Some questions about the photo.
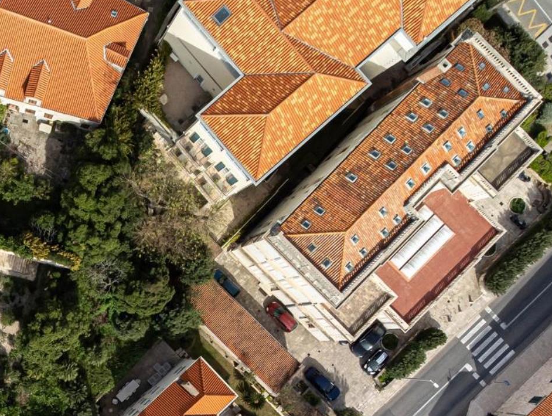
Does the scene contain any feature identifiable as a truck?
No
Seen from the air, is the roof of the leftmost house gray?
No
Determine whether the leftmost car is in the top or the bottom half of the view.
bottom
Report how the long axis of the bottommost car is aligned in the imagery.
diagonally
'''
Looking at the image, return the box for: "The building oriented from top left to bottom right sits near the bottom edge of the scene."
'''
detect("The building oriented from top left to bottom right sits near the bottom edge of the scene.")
[188,280,300,395]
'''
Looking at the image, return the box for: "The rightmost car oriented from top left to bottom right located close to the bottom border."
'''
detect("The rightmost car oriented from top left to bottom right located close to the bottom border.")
[302,363,339,403]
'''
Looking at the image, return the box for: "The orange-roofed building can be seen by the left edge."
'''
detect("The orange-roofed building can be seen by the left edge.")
[0,0,149,139]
